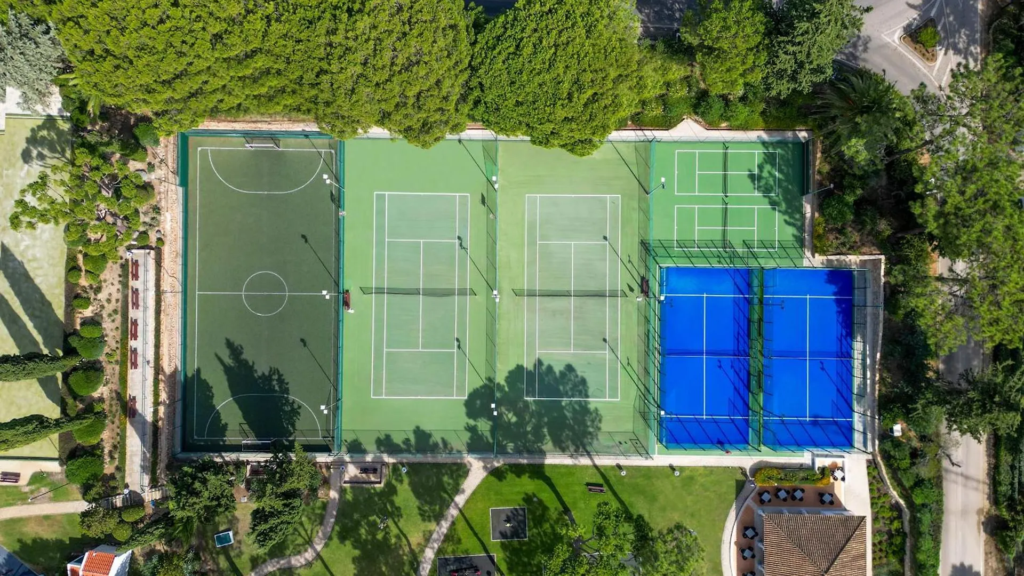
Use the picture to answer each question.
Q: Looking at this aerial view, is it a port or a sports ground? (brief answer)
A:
sports ground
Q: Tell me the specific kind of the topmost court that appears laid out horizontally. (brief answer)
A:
tennis court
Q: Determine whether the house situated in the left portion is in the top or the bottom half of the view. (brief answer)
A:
bottom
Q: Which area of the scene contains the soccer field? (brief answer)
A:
left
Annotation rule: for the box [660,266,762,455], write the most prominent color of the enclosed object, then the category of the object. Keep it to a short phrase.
blue sports court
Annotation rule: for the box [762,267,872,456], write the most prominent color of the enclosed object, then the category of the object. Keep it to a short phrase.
blue sports court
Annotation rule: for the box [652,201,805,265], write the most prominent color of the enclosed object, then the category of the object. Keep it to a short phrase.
green tennis court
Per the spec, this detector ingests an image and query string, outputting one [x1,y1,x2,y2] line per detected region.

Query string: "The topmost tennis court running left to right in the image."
[652,142,805,201]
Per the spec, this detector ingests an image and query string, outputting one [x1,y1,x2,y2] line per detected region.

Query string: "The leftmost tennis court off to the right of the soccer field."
[340,140,497,455]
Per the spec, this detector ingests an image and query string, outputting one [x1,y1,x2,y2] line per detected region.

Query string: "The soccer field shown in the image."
[183,137,339,453]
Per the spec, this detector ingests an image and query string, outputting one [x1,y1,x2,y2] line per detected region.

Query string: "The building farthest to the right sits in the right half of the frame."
[751,504,867,576]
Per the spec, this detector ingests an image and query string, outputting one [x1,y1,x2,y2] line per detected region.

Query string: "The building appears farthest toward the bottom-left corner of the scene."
[70,543,129,576]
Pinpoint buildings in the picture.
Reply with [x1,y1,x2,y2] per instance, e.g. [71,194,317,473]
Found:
[70,543,129,576]
[751,504,867,576]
